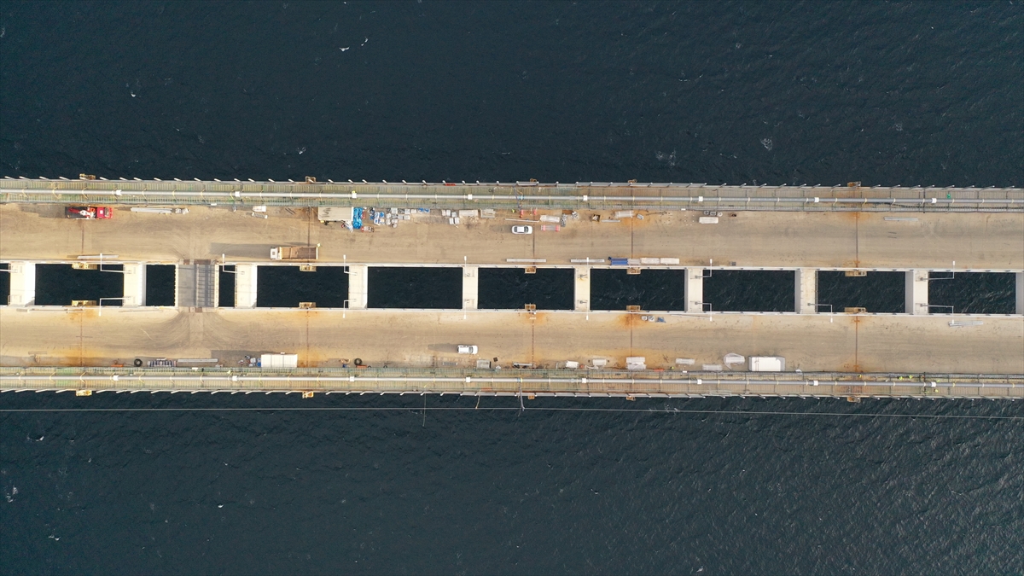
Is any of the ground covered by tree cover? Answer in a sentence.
No, the scene doesn't show any tree cover.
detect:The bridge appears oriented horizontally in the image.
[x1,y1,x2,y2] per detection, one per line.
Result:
[0,178,1024,400]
